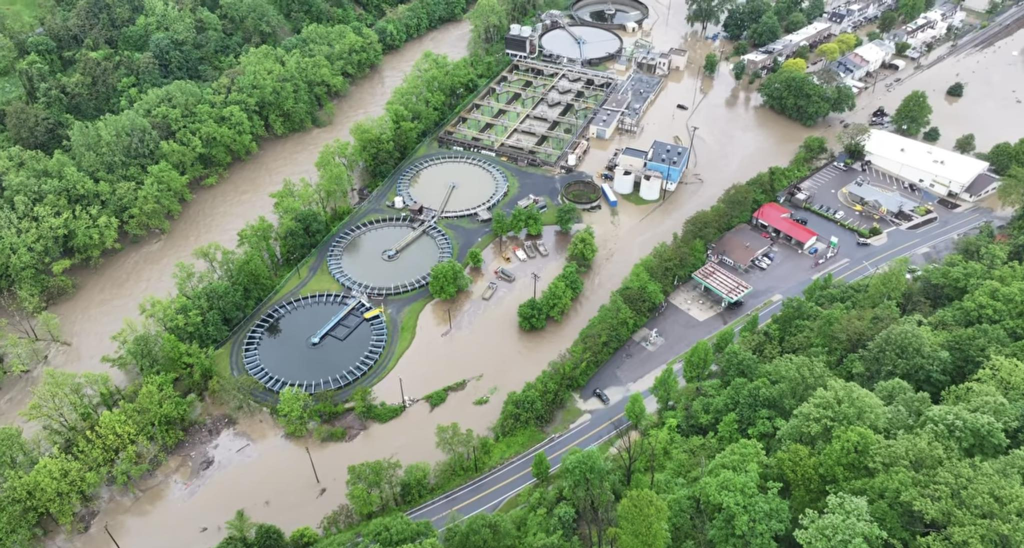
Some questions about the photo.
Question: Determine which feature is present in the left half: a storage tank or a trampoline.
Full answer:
There is a storage tank in the left half.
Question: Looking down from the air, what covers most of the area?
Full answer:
The largest share of the image is taken up by trees.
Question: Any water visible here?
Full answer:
Yes, some water is visible.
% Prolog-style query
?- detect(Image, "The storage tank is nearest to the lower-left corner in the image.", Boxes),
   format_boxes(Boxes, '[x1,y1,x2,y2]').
[241,289,388,397]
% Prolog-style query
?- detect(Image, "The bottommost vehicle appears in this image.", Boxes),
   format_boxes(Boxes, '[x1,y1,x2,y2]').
[591,386,613,407]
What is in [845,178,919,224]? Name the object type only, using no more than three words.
building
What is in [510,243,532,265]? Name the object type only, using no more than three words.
truck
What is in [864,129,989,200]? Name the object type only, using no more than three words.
building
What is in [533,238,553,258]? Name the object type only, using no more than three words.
vehicle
